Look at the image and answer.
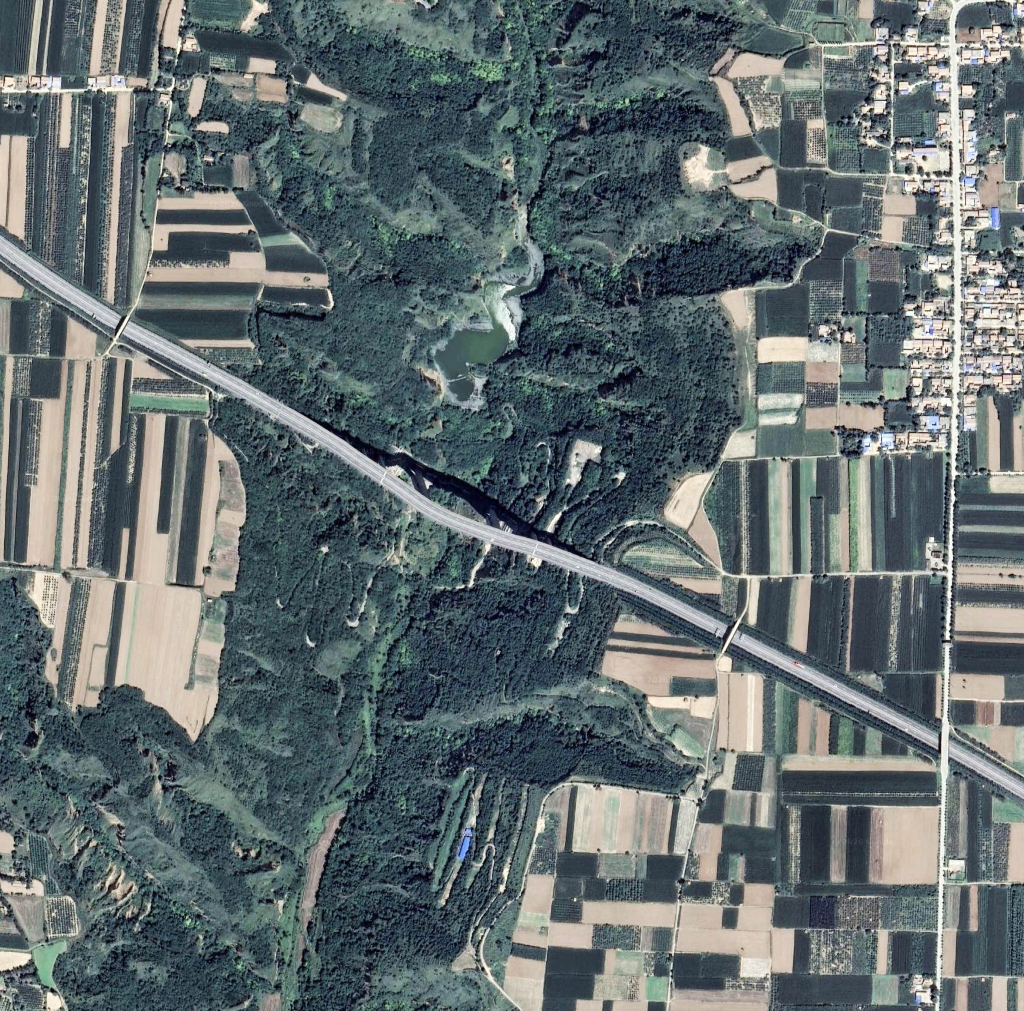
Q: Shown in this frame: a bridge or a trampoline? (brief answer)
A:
bridge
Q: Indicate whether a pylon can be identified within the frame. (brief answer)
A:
No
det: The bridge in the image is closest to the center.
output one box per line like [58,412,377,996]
[282,415,607,581]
